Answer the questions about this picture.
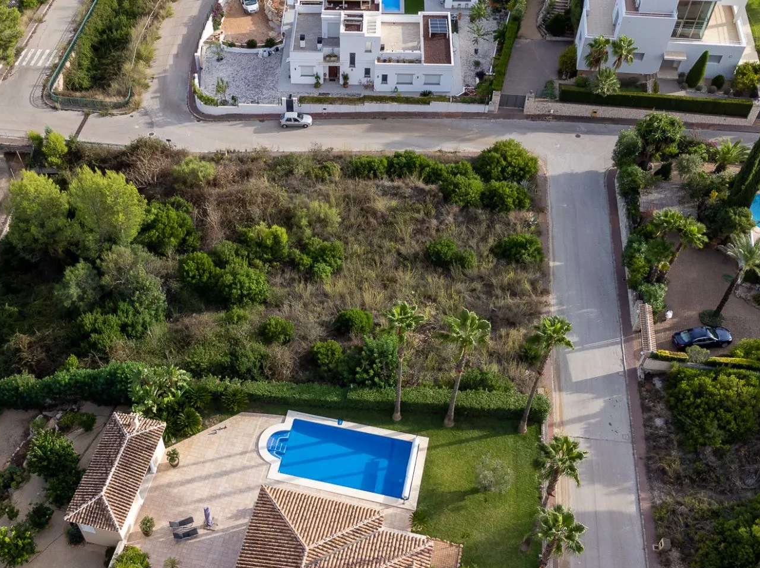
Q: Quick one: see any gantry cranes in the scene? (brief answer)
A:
No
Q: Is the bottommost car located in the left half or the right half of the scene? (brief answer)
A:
right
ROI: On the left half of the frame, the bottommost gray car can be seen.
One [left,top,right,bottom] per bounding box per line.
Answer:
[278,111,312,128]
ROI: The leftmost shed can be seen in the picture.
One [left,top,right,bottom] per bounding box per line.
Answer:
[63,411,166,539]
